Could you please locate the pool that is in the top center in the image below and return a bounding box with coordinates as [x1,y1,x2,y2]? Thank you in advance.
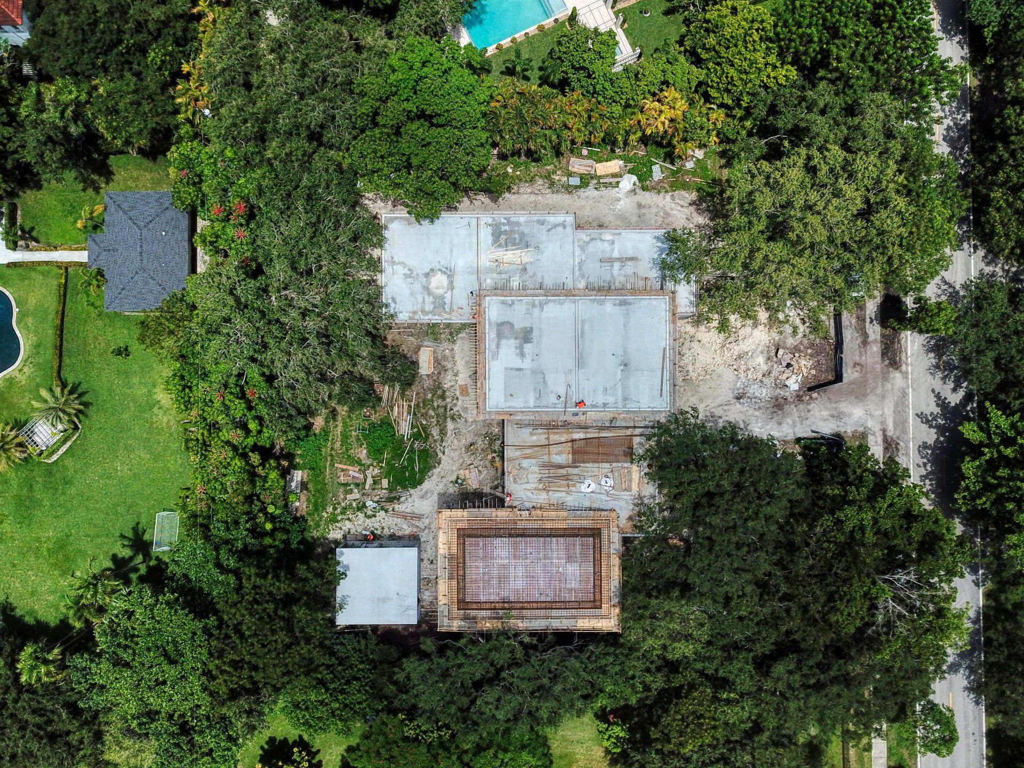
[454,0,572,50]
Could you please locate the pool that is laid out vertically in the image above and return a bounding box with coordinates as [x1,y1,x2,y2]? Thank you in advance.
[0,285,25,379]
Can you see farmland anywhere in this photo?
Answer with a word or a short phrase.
No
